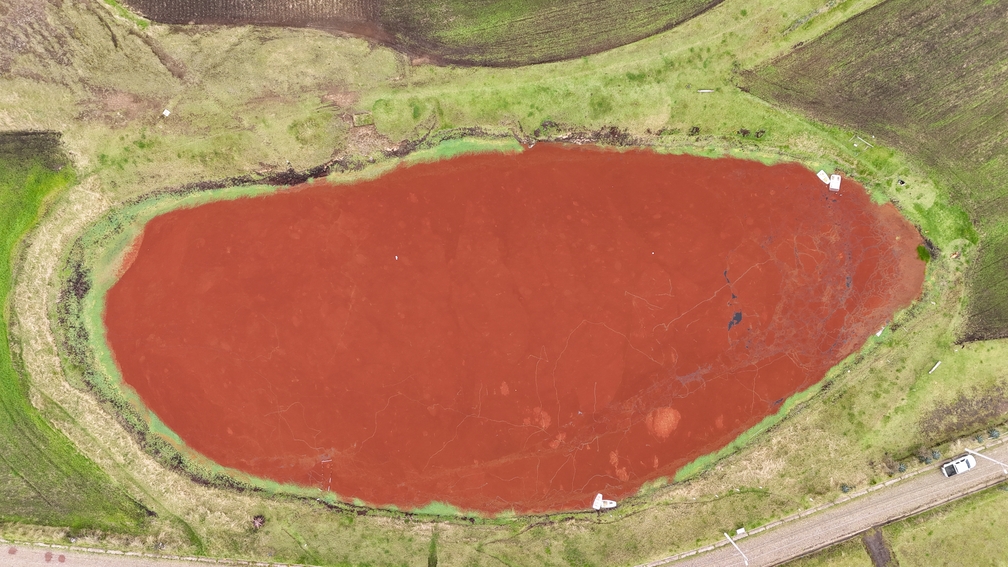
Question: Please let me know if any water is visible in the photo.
Yes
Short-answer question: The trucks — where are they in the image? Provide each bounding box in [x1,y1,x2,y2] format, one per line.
[941,456,976,479]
